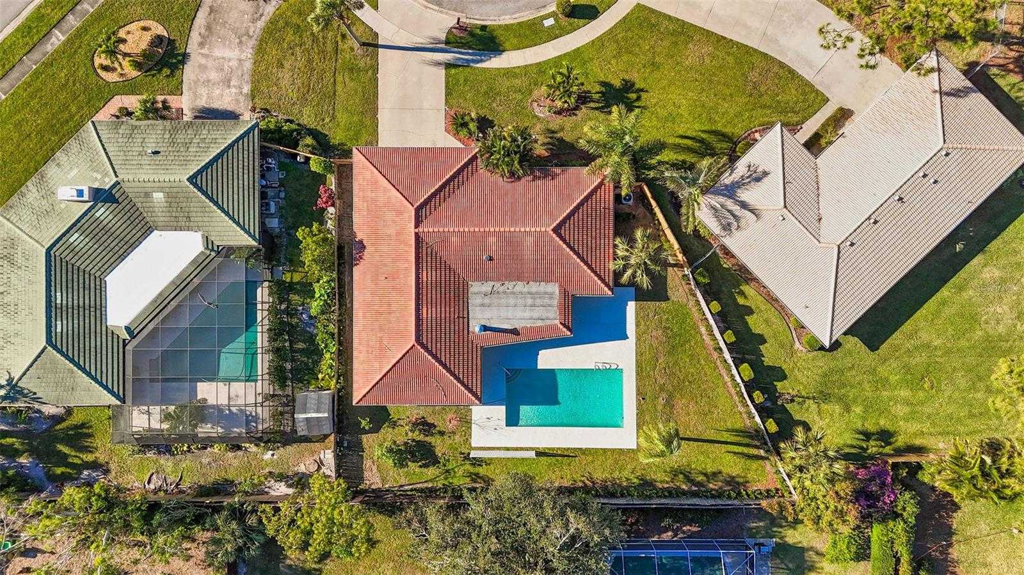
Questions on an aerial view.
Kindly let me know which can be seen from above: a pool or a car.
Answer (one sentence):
There is a pool in the scene.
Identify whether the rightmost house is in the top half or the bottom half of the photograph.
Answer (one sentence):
The rightmost house is in the top half of the image.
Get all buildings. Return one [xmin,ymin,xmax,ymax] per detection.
[697,49,1024,349]
[352,145,616,407]
[0,118,264,406]
[289,391,334,436]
